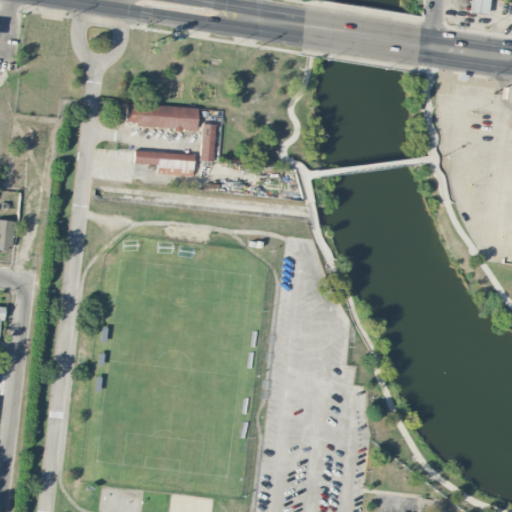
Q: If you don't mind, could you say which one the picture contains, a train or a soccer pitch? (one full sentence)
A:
I can see a soccer pitch in this picture.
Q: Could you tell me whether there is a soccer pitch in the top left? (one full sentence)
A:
No, I see no soccer pitch in the top left.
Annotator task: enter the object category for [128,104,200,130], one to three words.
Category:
barn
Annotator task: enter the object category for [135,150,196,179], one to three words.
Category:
barn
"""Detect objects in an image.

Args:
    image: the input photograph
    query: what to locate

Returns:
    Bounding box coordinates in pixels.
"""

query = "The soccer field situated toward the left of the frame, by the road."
[97,260,251,477]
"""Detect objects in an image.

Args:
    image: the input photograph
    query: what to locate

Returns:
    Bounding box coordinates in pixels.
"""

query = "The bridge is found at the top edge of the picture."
[304,0,420,71]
